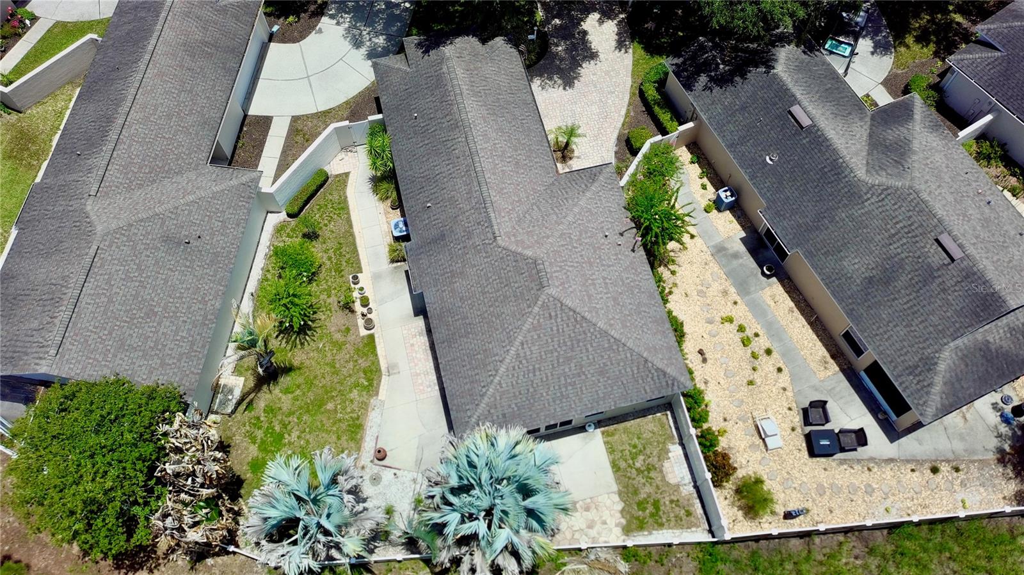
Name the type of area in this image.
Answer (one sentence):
This image shows a residential area.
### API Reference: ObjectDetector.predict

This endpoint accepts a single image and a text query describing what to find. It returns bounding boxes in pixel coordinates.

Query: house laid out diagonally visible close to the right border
[664,23,1024,429]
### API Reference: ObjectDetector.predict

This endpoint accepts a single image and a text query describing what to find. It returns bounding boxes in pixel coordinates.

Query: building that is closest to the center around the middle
[370,23,694,442]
